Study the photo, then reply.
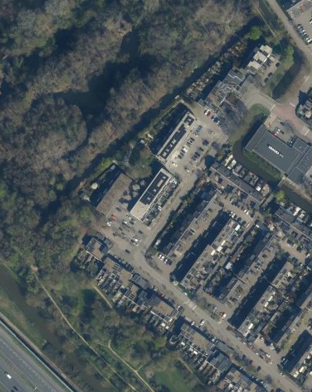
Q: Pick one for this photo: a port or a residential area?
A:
residential area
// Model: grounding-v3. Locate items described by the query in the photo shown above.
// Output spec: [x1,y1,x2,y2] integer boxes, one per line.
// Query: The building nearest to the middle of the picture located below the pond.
[130,169,176,224]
